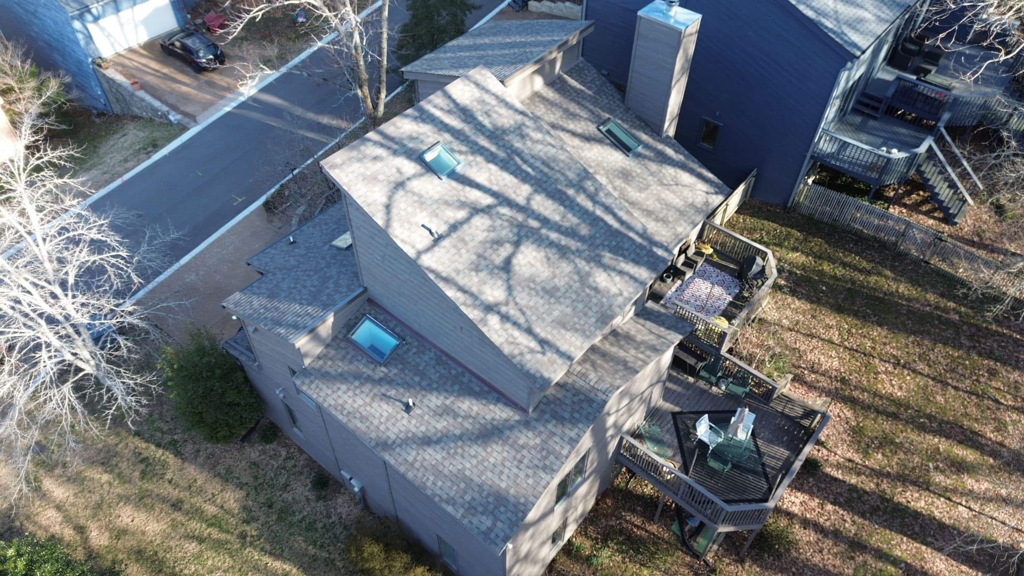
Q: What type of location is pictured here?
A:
residential area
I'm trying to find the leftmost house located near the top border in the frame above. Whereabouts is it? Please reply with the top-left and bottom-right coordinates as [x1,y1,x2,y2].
[0,0,214,112]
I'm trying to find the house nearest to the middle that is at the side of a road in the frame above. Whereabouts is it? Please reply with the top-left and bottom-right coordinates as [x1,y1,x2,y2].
[219,0,735,576]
